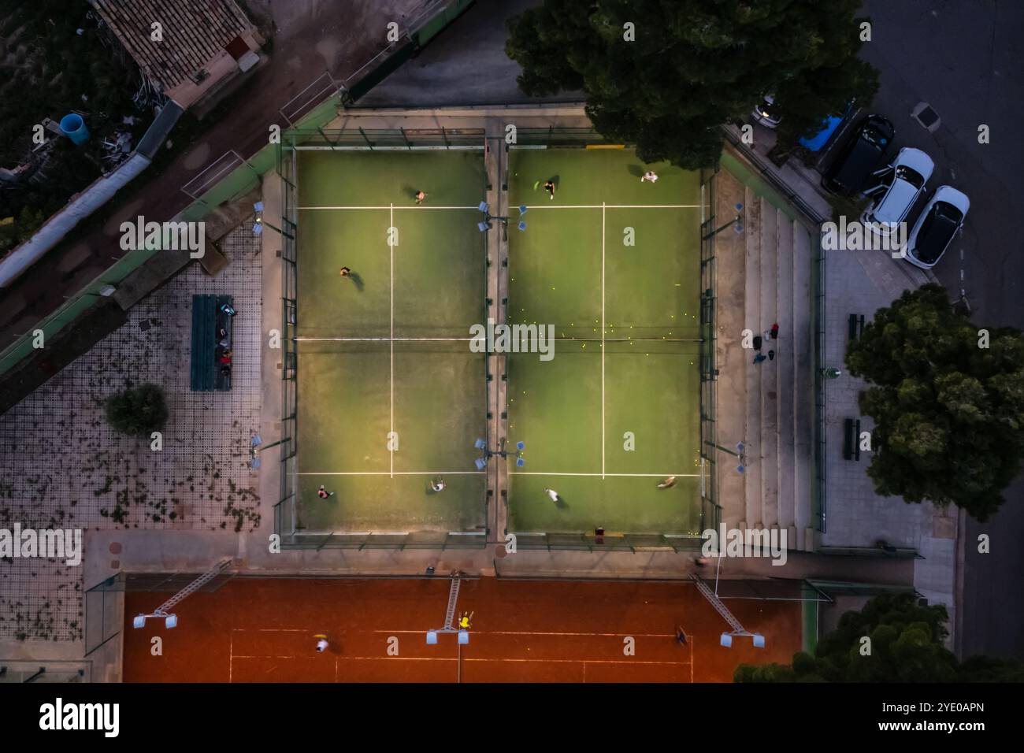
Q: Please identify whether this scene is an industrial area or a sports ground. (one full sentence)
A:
What you see here is a sports ground.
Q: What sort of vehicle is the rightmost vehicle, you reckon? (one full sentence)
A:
The rightmost vehicle is a car.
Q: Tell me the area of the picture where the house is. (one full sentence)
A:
The house is in the top left part of the image.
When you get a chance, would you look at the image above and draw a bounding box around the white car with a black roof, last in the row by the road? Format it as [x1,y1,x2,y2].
[902,185,969,271]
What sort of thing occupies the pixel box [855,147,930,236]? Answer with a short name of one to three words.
car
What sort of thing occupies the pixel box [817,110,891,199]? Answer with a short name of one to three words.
car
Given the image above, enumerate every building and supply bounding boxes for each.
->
[97,0,274,108]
